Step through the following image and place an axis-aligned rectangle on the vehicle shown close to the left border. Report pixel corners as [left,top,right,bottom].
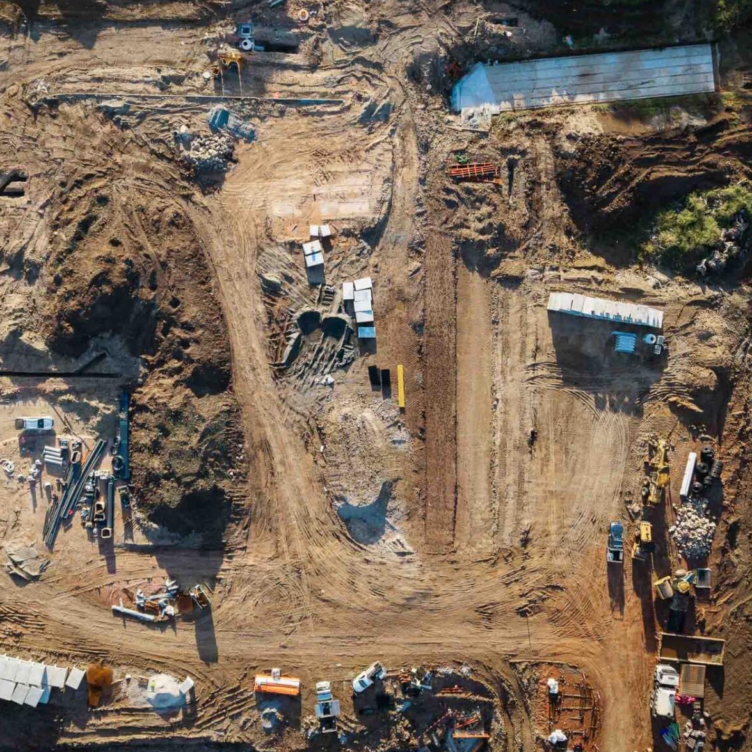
[17,416,59,433]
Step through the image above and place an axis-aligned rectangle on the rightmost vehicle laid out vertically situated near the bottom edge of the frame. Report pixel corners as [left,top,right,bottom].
[646,658,675,735]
